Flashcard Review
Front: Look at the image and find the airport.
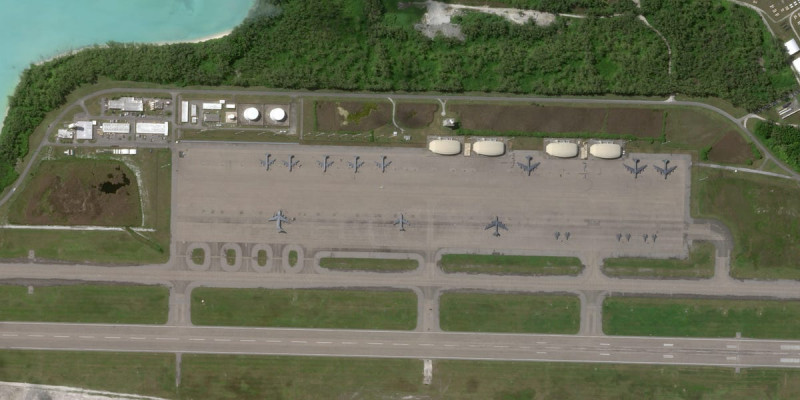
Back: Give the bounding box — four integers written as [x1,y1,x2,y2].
[0,141,800,387]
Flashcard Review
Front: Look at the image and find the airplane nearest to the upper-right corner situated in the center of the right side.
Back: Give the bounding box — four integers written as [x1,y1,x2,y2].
[655,159,677,180]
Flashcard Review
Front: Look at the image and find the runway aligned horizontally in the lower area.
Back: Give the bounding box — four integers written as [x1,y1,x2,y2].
[0,322,800,367]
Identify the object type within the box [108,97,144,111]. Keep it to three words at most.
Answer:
building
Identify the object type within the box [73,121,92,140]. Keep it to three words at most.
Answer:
building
